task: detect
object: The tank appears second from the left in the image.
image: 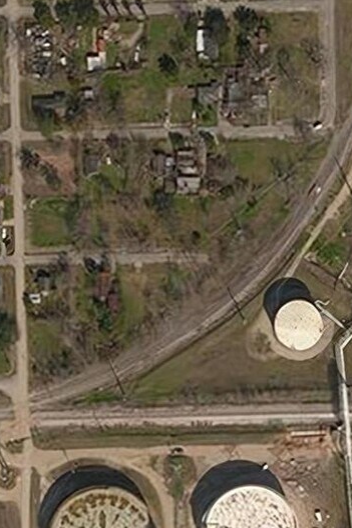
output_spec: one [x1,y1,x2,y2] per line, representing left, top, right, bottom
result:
[202,486,297,528]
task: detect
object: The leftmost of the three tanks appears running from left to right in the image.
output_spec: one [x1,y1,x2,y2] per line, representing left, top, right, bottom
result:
[52,488,149,528]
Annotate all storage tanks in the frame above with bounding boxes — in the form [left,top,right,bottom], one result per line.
[273,297,324,350]
[52,488,149,528]
[202,486,297,528]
